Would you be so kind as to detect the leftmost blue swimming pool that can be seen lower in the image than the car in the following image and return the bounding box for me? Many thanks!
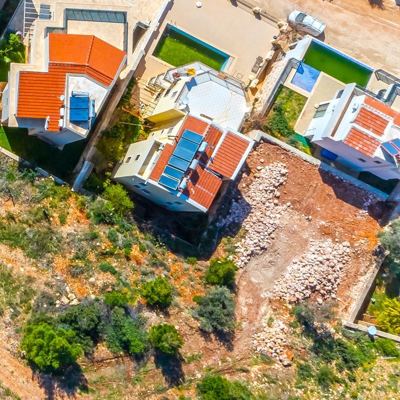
[286,60,324,98]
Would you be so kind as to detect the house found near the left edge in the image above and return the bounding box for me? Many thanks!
[0,10,134,150]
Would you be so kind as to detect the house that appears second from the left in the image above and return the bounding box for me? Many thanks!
[117,61,256,223]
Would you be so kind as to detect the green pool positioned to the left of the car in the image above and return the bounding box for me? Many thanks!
[147,18,234,74]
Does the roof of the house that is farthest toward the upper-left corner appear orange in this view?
Yes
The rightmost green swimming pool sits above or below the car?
below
